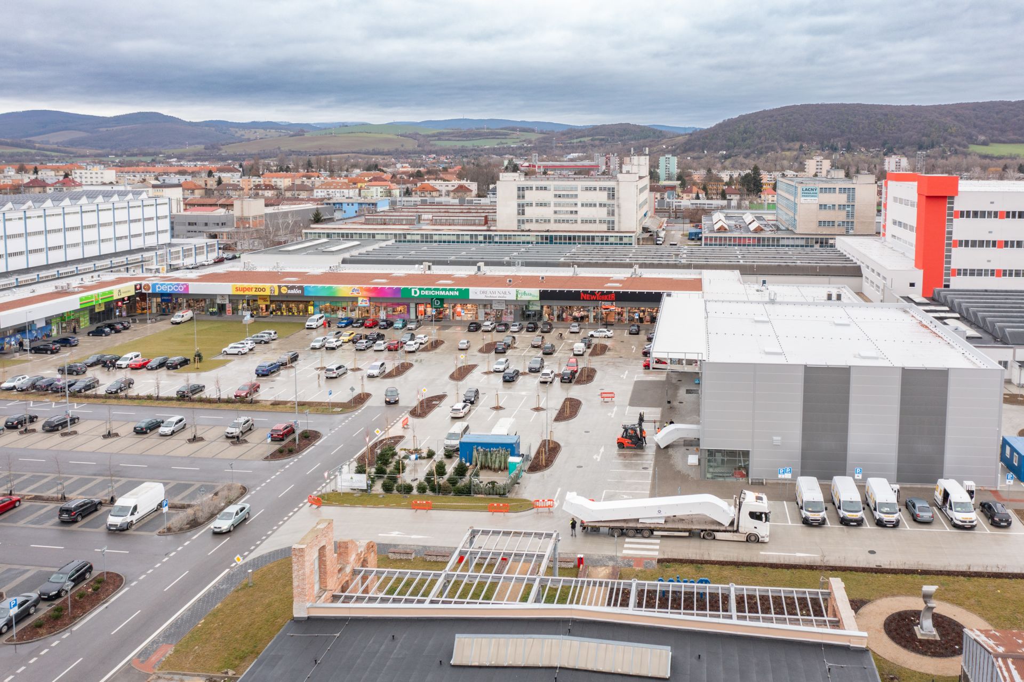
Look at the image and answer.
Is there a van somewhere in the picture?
Yes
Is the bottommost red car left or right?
left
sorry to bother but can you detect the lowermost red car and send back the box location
[0,493,22,513]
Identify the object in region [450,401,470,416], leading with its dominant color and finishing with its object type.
white car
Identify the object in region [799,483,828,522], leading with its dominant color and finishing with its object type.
white van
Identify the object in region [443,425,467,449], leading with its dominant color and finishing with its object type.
white vehicle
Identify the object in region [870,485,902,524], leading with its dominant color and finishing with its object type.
white van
